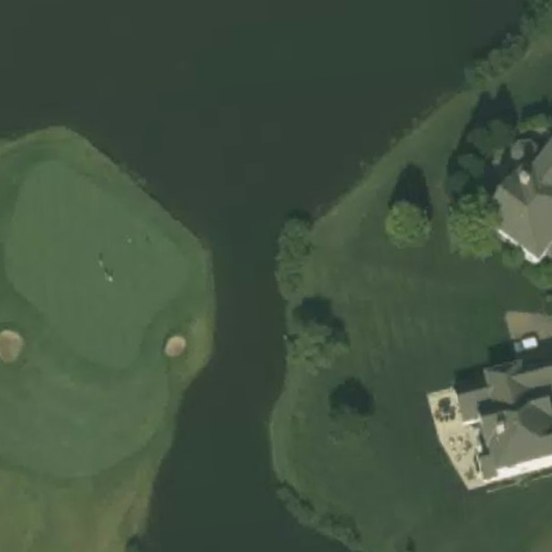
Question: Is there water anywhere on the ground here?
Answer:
Yes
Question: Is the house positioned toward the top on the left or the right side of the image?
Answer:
right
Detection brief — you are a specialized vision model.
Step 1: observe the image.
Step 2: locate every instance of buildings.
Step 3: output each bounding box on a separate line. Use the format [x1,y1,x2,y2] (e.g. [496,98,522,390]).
[457,359,552,483]
[495,137,552,259]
